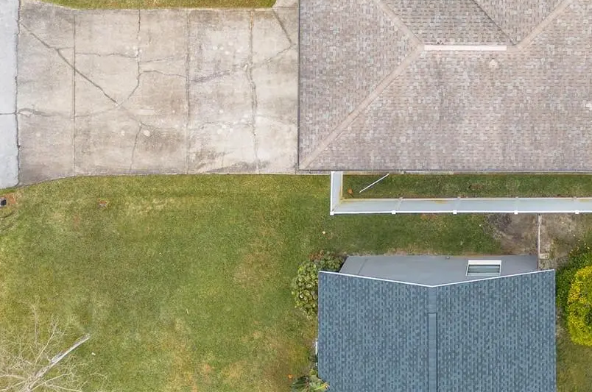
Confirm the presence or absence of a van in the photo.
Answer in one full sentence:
No, there is no van in the image.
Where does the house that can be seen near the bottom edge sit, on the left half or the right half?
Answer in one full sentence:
It is on the right.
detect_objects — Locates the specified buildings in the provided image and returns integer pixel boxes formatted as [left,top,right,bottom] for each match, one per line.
[298,0,592,176]
[313,256,554,392]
